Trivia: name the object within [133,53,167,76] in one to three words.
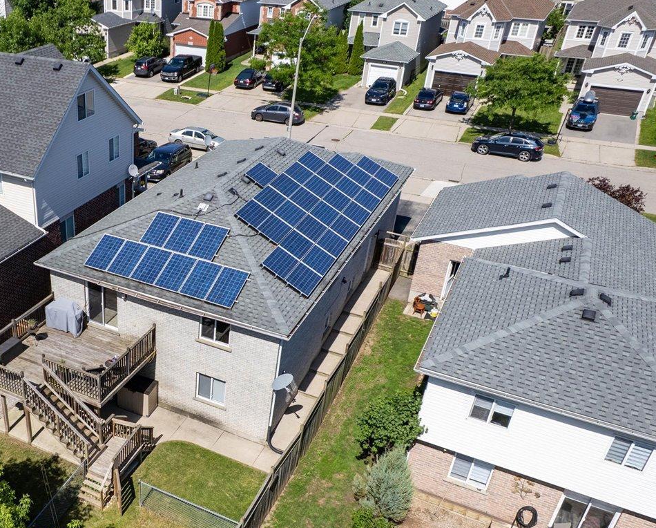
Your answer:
car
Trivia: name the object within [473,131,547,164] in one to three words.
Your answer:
car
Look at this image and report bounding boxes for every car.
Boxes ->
[251,100,305,125]
[473,131,547,164]
[230,68,262,89]
[443,92,476,114]
[411,86,447,110]
[133,53,167,76]
[257,69,295,92]
[166,126,220,150]
[366,75,397,103]
[133,138,169,163]
[571,98,603,130]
